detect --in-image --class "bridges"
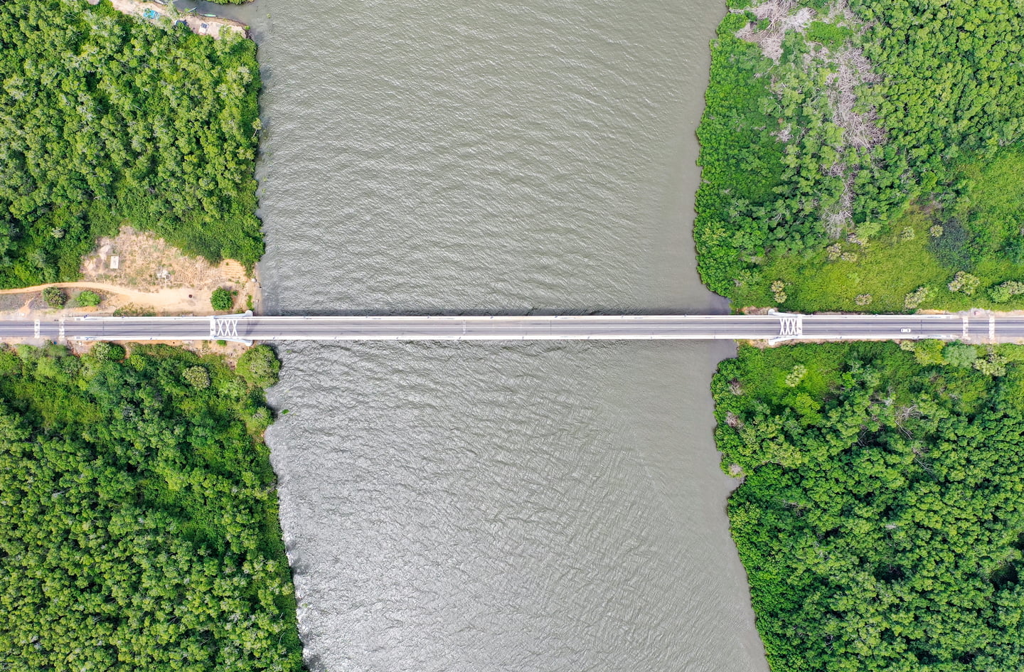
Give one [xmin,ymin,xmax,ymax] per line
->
[66,309,961,345]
